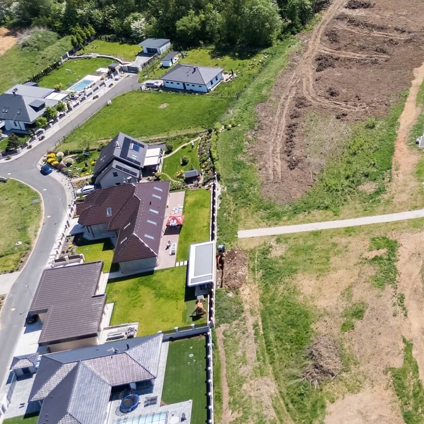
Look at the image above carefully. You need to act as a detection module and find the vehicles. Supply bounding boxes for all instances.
[15,313,41,326]
[36,164,56,174]
[74,184,97,196]
[215,243,226,260]
[144,78,163,87]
